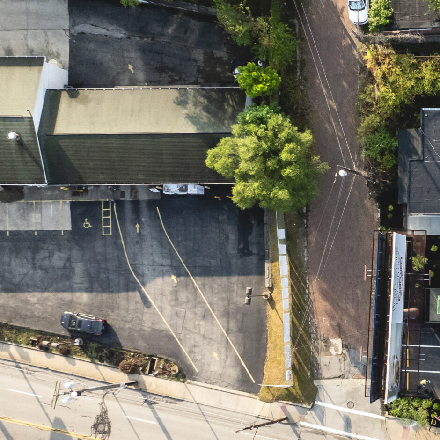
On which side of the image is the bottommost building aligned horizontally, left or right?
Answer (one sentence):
The bottommost building aligned horizontally sits on the left side.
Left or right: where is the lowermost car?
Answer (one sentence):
It is on the left.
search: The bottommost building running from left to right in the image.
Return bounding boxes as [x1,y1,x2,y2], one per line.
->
[0,53,269,190]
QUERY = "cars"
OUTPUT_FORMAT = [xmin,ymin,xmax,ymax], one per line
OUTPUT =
[61,311,109,335]
[348,0,370,28]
